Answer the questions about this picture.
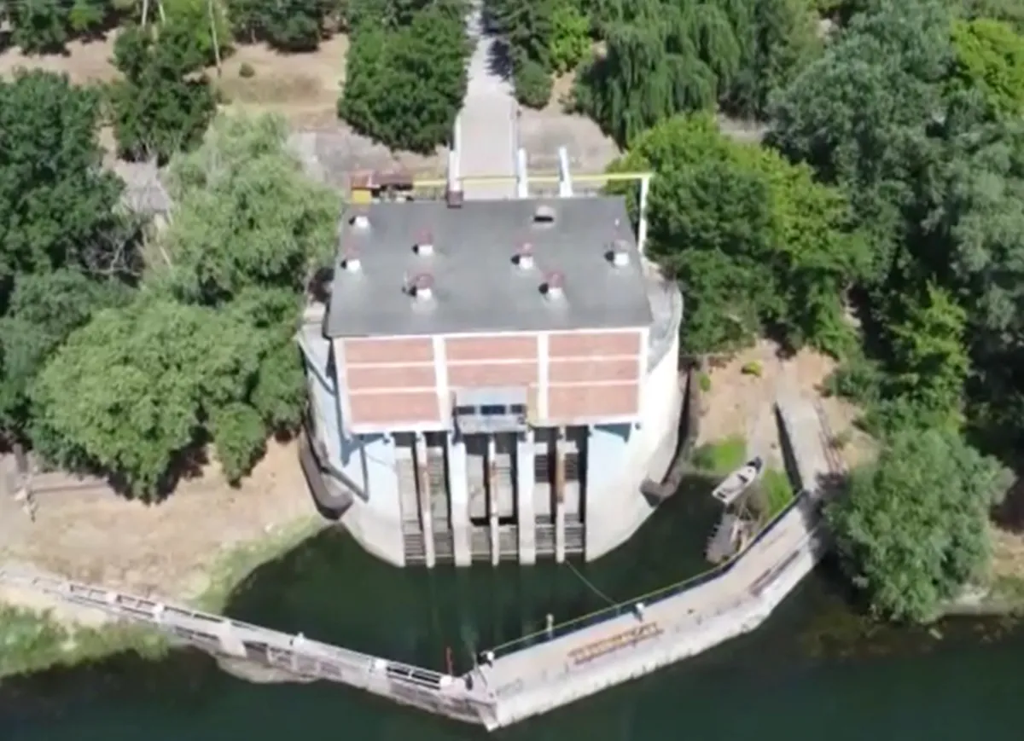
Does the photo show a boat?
Yes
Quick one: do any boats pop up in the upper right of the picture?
No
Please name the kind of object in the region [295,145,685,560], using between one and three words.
building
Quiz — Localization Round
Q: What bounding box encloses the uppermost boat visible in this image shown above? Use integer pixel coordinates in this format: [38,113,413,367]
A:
[713,460,760,508]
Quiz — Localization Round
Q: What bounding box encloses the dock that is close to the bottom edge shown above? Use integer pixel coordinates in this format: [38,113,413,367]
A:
[477,489,873,732]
